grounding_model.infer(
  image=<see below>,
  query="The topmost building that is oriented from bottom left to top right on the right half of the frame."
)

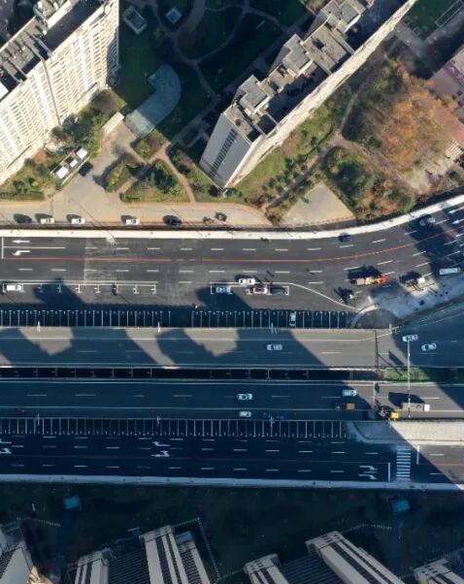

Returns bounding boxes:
[202,0,428,189]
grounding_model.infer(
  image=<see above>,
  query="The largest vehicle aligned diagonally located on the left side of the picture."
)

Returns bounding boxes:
[79,162,92,177]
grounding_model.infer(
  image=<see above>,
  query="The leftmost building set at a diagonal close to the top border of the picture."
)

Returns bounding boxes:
[0,0,149,177]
